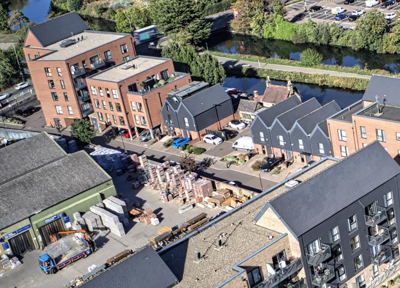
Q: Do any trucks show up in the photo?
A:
Yes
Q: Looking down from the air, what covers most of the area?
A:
buildings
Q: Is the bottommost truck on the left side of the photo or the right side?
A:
left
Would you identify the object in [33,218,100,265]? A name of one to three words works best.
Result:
truck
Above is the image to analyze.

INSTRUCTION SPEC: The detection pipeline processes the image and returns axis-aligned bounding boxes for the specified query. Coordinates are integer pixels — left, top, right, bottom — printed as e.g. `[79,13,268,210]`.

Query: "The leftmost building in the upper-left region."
[22,11,137,124]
